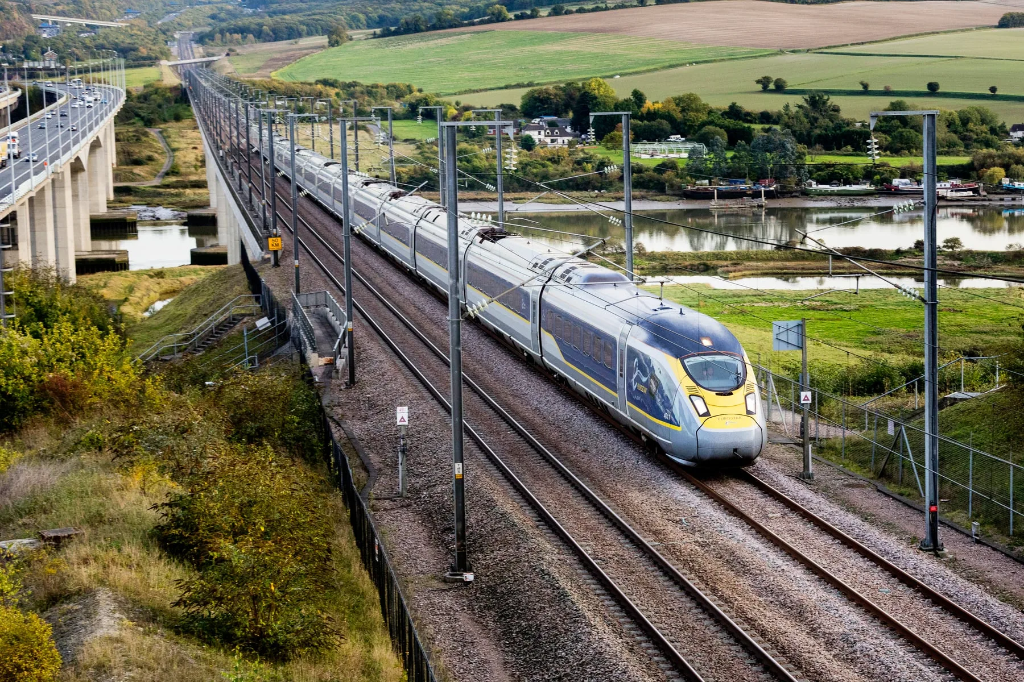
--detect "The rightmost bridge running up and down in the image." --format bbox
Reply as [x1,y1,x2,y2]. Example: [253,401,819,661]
[188,84,283,263]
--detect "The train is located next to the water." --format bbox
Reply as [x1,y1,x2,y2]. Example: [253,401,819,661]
[251,118,766,477]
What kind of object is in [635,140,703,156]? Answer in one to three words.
greenhouse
